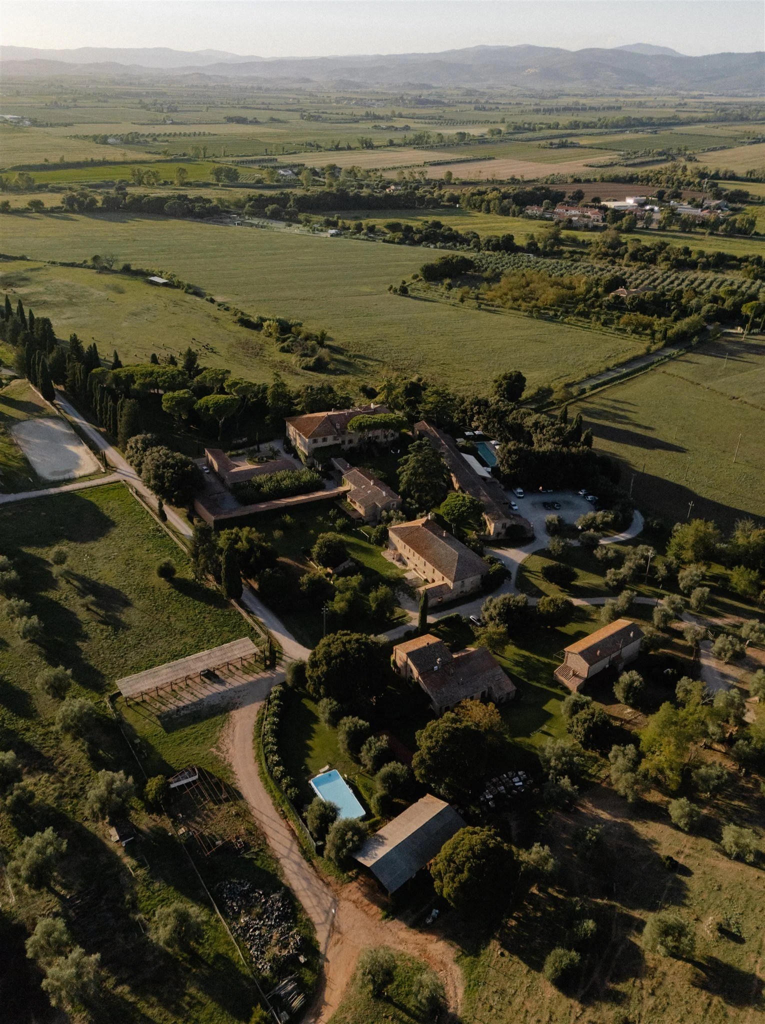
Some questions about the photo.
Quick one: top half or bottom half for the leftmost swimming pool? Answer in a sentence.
The bottom half of the photo is where the leftmost swimming pool is.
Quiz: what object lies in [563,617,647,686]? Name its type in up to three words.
house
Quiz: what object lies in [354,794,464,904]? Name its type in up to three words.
barn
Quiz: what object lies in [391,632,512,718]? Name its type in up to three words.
house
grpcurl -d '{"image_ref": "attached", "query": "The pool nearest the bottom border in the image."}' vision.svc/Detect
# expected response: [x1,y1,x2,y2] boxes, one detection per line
[310,769,366,828]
